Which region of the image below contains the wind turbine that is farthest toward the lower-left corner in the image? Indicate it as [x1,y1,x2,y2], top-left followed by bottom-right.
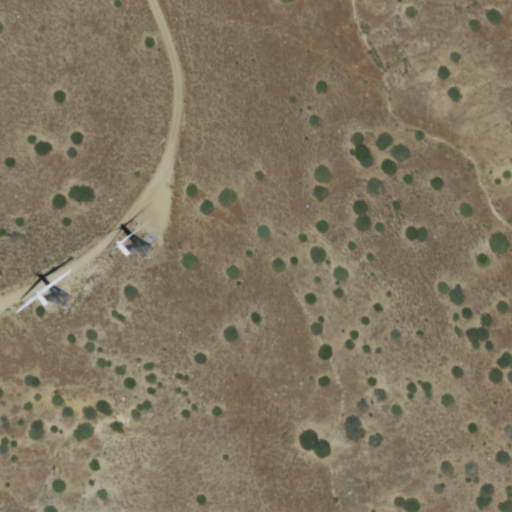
[17,268,73,313]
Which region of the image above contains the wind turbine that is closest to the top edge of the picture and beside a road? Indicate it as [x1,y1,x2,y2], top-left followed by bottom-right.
[100,218,153,258]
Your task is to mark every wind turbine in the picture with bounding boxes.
[17,268,73,313]
[100,218,153,258]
